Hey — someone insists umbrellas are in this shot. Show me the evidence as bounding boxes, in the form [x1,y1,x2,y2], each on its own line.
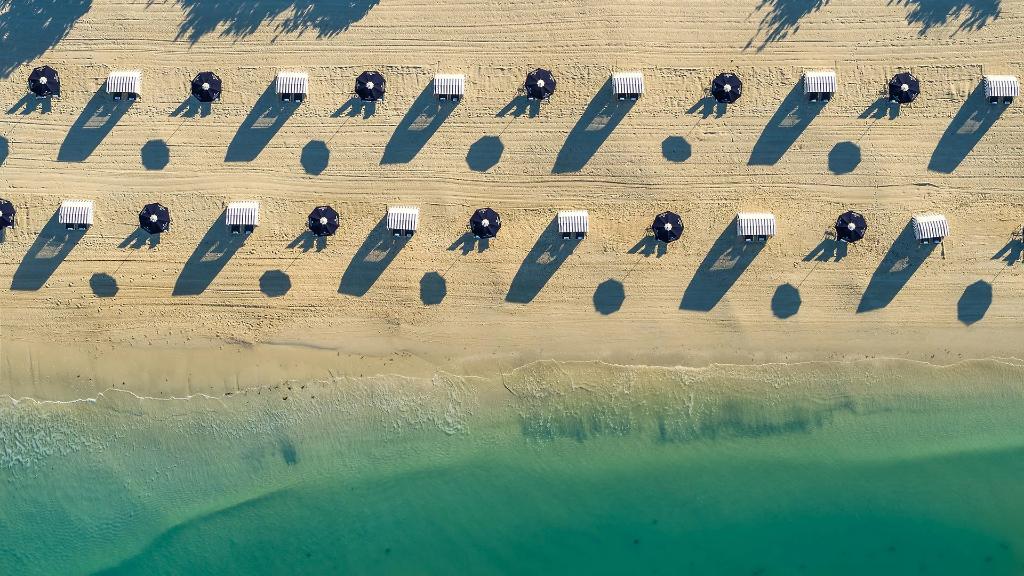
[309,206,339,236]
[356,72,385,101]
[470,208,501,239]
[889,73,919,103]
[835,211,867,243]
[139,202,170,233]
[525,69,556,100]
[712,73,742,103]
[192,72,221,102]
[652,212,684,243]
[28,65,60,96]
[0,198,17,229]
